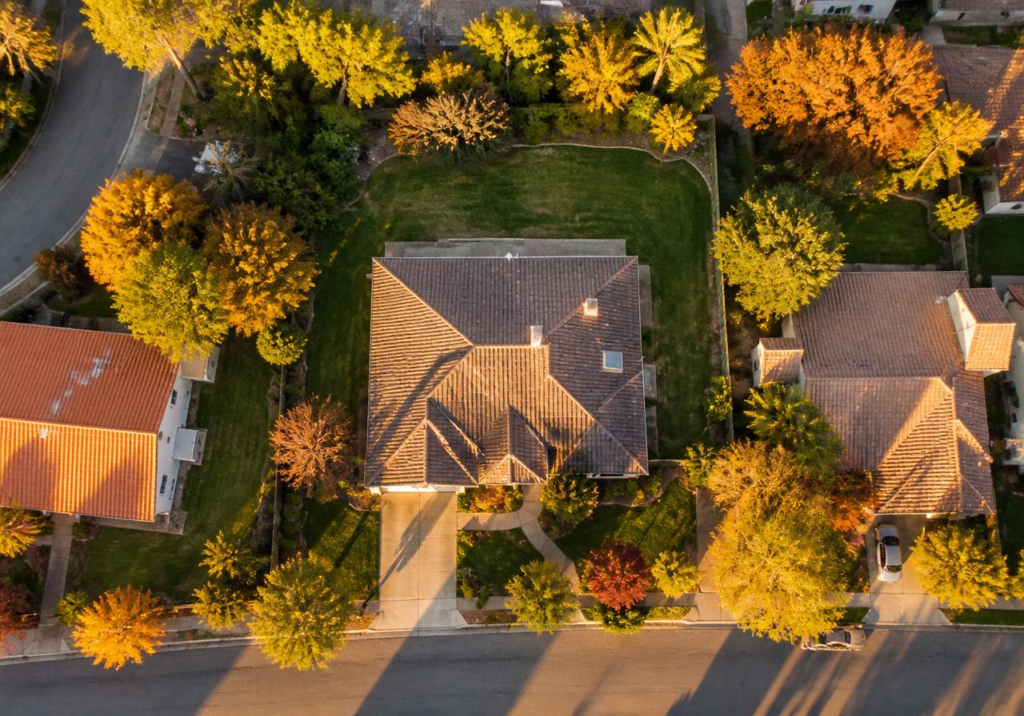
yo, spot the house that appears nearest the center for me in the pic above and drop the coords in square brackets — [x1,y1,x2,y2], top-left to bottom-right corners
[364,251,651,491]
